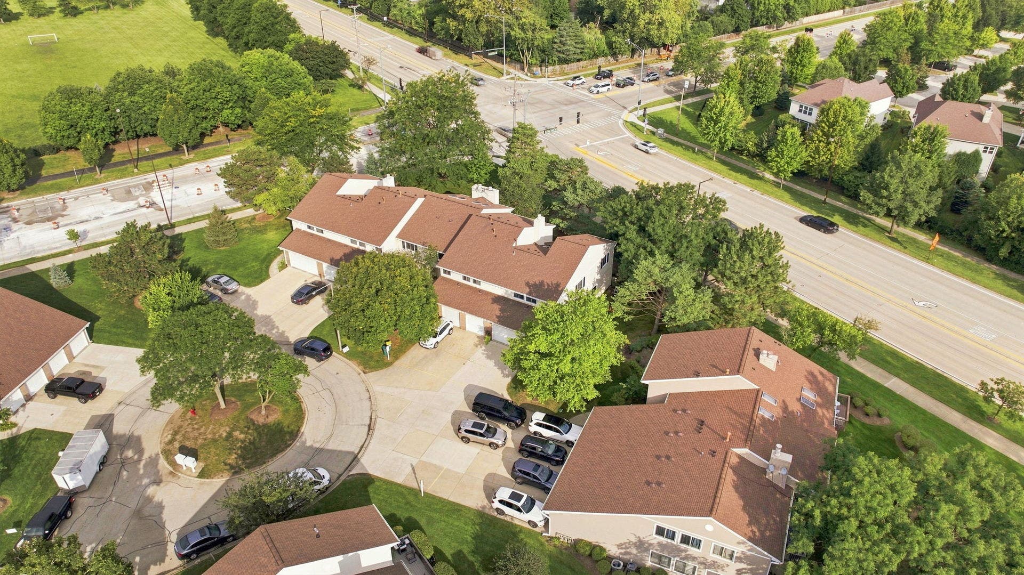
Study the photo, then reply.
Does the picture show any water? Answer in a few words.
No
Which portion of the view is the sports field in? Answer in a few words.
top left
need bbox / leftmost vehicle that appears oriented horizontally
[39,375,106,403]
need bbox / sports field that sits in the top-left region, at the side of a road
[0,0,253,139]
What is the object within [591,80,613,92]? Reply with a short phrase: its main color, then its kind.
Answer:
white vehicle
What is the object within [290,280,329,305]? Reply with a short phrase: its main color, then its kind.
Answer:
gray car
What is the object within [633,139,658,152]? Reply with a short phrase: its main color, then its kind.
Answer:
white vehicle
